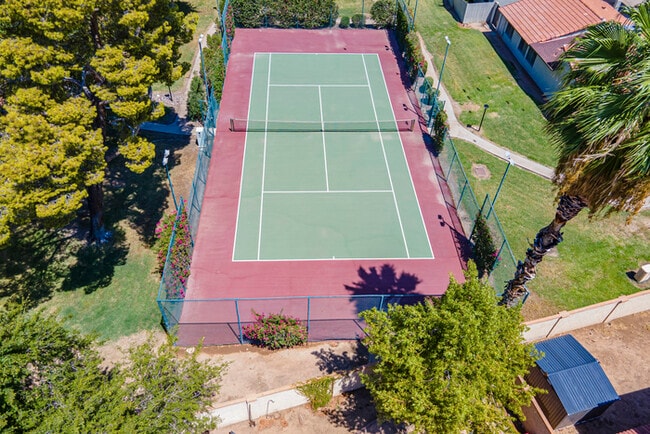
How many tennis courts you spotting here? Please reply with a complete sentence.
Only 1 tennis court is visible.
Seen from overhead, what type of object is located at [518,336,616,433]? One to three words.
shed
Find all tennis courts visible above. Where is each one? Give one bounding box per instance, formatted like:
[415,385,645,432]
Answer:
[175,27,489,346]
